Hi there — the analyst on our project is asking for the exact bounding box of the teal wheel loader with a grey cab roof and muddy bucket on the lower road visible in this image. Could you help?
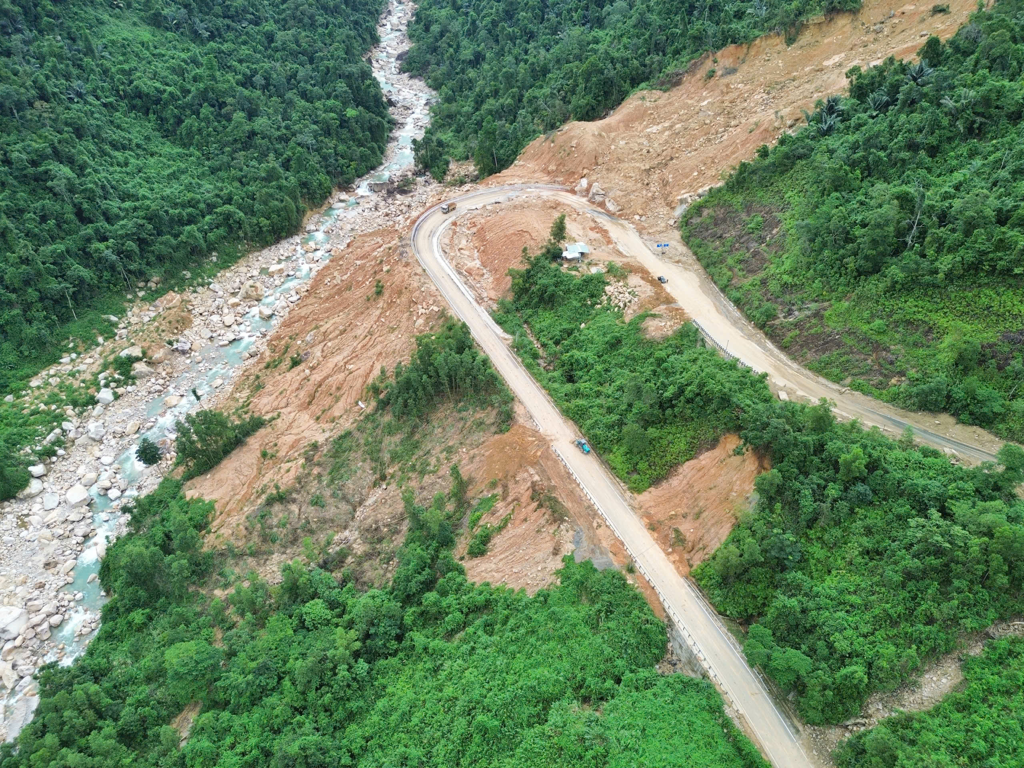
[570,437,594,456]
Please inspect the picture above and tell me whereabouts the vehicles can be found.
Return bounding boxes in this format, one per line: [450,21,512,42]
[659,275,667,284]
[441,204,457,215]
[570,437,594,456]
